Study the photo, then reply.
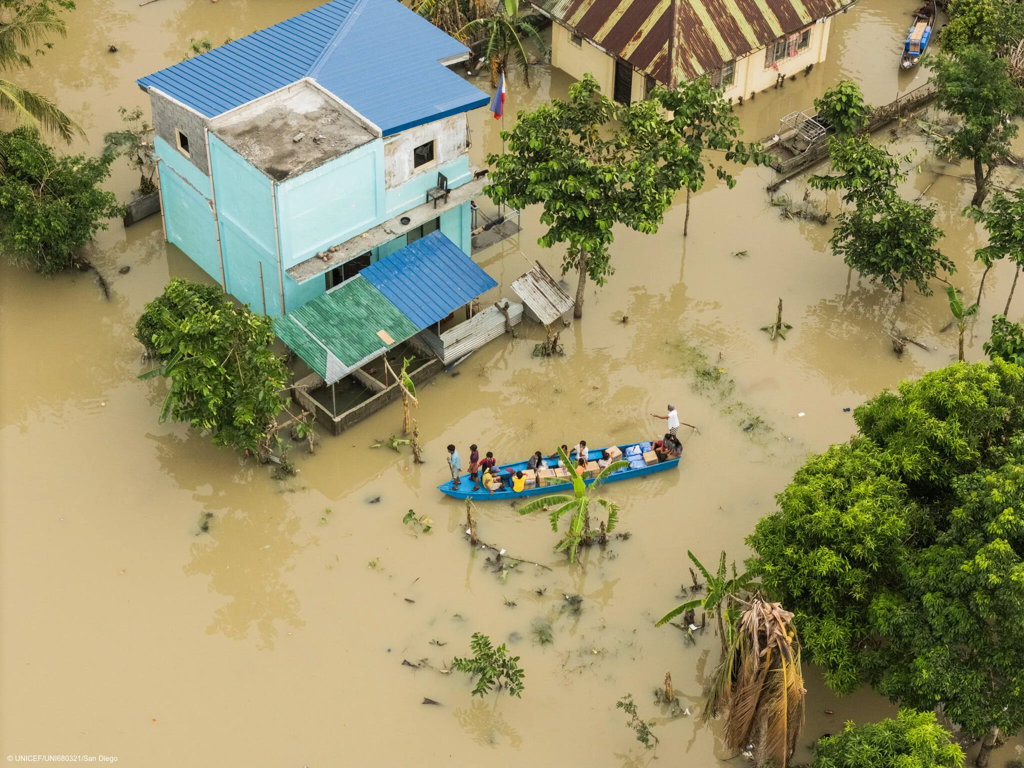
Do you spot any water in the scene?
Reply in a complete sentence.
Yes, the picture does contain water.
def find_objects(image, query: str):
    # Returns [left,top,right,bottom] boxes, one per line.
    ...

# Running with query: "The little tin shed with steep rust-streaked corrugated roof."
[510,252,575,345]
